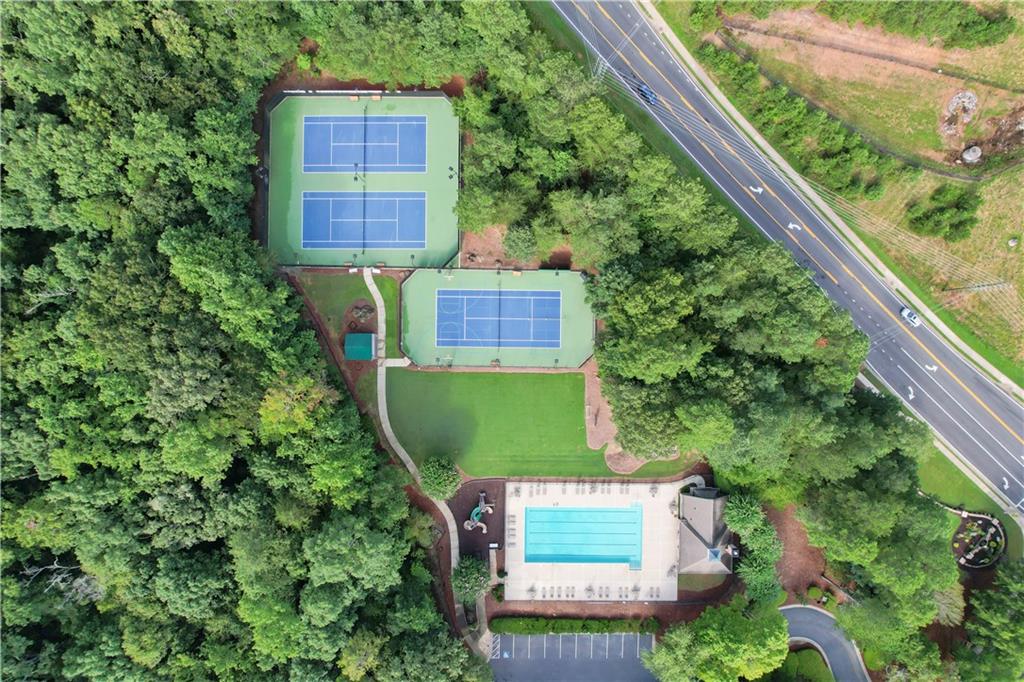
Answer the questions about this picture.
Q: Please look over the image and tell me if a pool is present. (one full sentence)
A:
Yes, this view includes a pool.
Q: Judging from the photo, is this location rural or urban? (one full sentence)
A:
From above, the setting appears rural.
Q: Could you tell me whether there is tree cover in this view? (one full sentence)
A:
Yes, tree cover shows up in the scene.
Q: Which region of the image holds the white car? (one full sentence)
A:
Look in the right portion of the view to spot the white car.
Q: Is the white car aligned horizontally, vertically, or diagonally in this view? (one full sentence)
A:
What the image shows is the white car lying diagonally.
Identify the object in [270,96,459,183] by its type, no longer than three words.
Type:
tennis court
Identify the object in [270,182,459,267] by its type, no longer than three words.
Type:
tennis court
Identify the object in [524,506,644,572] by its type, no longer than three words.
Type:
swimming pool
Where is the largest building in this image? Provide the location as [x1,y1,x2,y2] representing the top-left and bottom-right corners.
[678,481,742,574]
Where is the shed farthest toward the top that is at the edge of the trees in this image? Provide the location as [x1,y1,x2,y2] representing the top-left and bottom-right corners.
[342,334,377,361]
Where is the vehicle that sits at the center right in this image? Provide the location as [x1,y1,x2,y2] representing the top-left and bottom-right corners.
[902,307,923,327]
